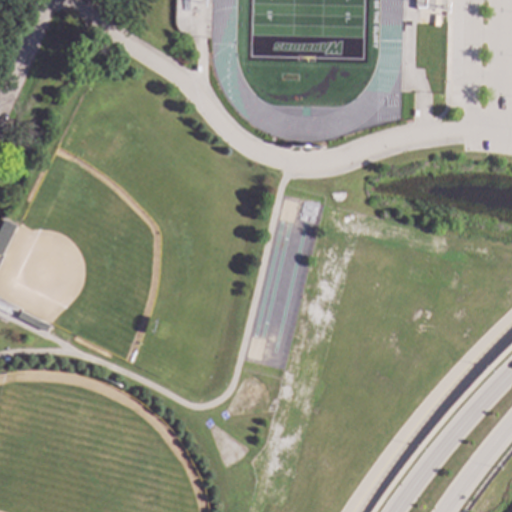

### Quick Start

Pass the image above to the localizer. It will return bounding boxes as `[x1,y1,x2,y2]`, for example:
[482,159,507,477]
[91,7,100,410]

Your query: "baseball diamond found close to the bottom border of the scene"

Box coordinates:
[0,369,205,512]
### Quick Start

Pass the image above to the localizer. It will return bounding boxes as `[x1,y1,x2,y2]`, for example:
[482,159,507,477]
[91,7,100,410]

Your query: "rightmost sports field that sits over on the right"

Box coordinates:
[237,0,380,106]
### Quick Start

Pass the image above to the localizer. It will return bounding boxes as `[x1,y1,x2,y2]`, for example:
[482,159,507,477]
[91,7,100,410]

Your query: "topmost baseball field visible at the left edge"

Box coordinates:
[0,148,162,362]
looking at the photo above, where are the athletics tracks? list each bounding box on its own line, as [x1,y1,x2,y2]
[211,0,402,142]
